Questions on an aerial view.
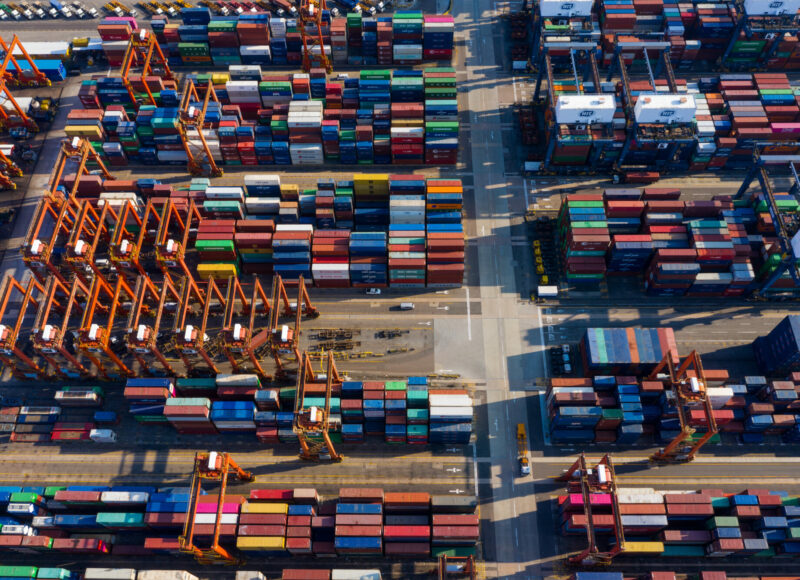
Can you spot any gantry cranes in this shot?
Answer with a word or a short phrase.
Yes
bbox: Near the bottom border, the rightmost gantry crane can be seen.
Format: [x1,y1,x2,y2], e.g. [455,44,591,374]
[557,454,624,570]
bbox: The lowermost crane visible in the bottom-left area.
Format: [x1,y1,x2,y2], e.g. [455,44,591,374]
[177,450,252,567]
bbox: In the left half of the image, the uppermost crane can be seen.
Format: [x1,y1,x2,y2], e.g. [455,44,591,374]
[298,0,334,67]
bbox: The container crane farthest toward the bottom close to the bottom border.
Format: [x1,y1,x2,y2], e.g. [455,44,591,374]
[430,556,478,580]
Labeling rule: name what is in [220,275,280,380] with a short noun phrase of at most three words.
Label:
container crane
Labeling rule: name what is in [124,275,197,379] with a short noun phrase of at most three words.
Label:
container crane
